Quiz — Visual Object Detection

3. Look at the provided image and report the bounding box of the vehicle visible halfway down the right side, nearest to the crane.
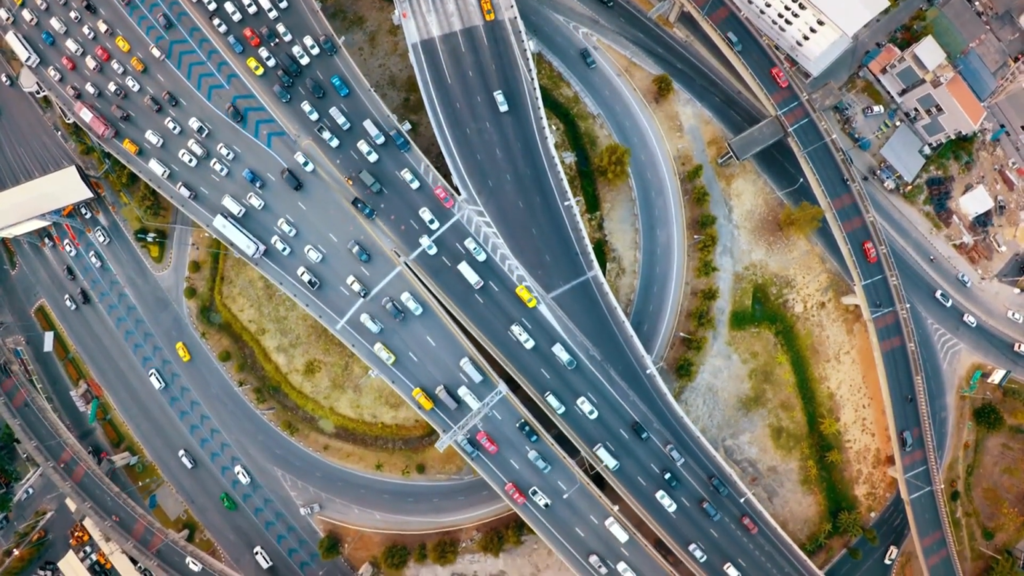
[985,234,1001,253]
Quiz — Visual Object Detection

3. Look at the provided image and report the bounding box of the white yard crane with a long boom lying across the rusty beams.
[949,216,984,257]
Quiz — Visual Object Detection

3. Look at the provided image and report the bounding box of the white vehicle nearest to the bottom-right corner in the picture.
[883,542,898,565]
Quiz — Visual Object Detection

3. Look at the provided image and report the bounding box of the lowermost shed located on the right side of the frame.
[947,184,994,222]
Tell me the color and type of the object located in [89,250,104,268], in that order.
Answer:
white car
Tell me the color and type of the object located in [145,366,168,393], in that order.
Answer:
white vehicle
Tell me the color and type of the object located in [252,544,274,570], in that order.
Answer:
white car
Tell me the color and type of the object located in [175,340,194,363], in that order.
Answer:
yellow car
